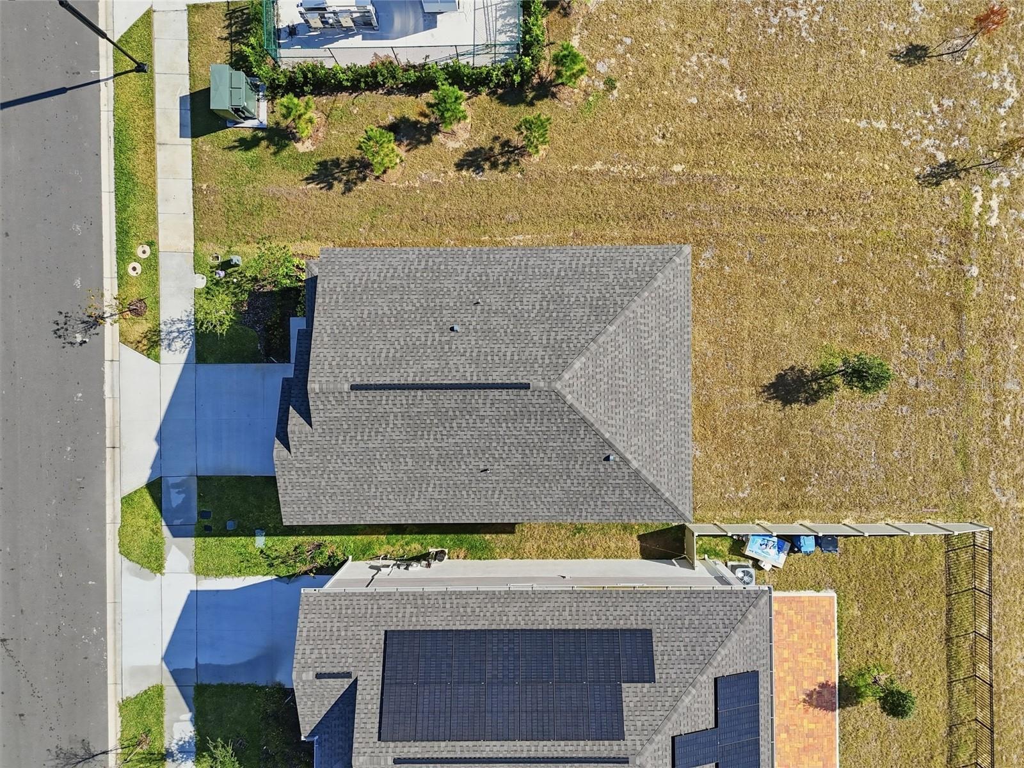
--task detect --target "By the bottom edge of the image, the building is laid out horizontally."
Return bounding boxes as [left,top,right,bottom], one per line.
[296,550,775,768]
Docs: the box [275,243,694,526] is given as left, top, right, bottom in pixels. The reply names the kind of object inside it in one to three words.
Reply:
house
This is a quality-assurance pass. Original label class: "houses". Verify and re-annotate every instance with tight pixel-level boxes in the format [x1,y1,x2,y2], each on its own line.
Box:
[275,243,694,526]
[296,550,775,768]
